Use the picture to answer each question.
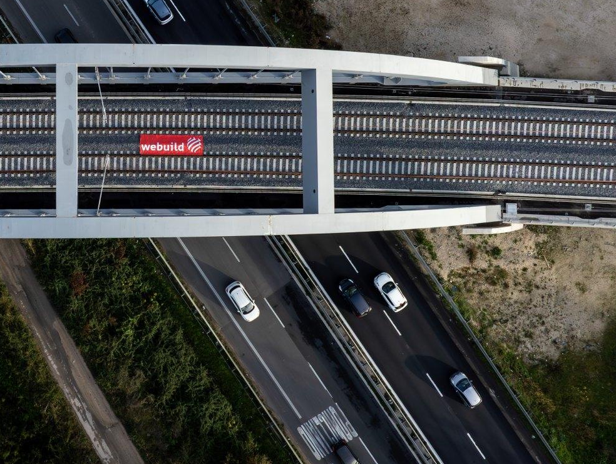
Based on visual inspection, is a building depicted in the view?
No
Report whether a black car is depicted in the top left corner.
Yes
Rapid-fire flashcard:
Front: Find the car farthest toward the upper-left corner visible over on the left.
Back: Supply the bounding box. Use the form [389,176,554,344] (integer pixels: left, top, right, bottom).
[53,25,80,45]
